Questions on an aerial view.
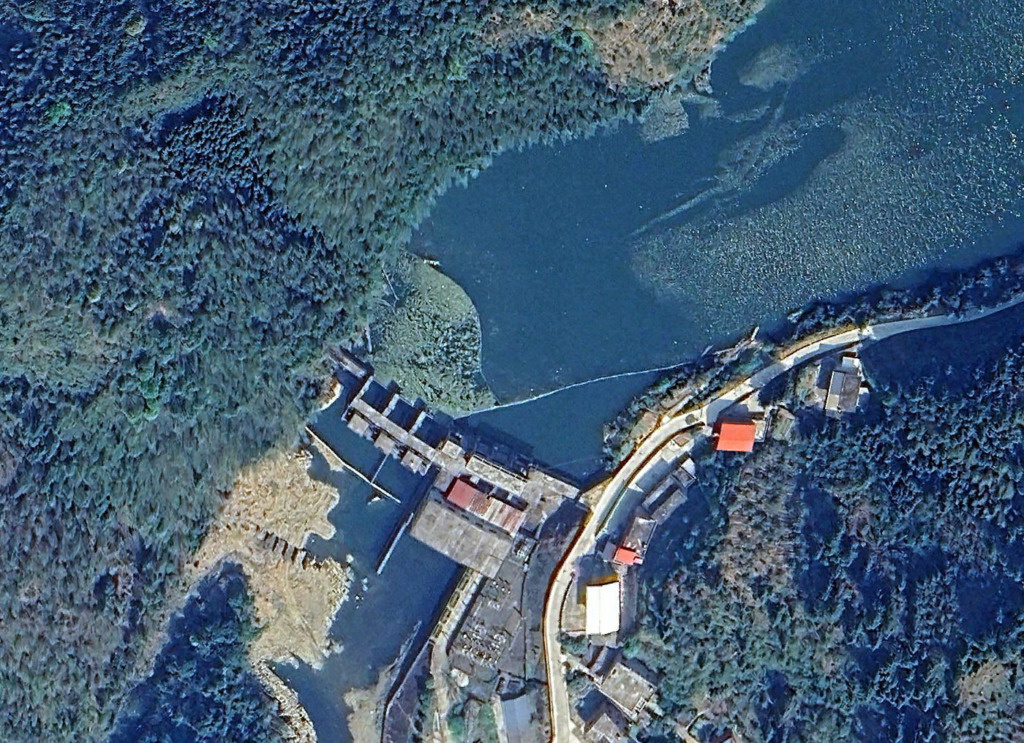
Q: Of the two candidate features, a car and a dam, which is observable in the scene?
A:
dam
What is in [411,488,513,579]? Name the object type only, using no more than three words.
building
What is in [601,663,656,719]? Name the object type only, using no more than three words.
house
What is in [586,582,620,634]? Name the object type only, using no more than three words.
building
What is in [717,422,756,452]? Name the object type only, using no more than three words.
house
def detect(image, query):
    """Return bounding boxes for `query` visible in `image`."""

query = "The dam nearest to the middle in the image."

[329,349,580,540]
